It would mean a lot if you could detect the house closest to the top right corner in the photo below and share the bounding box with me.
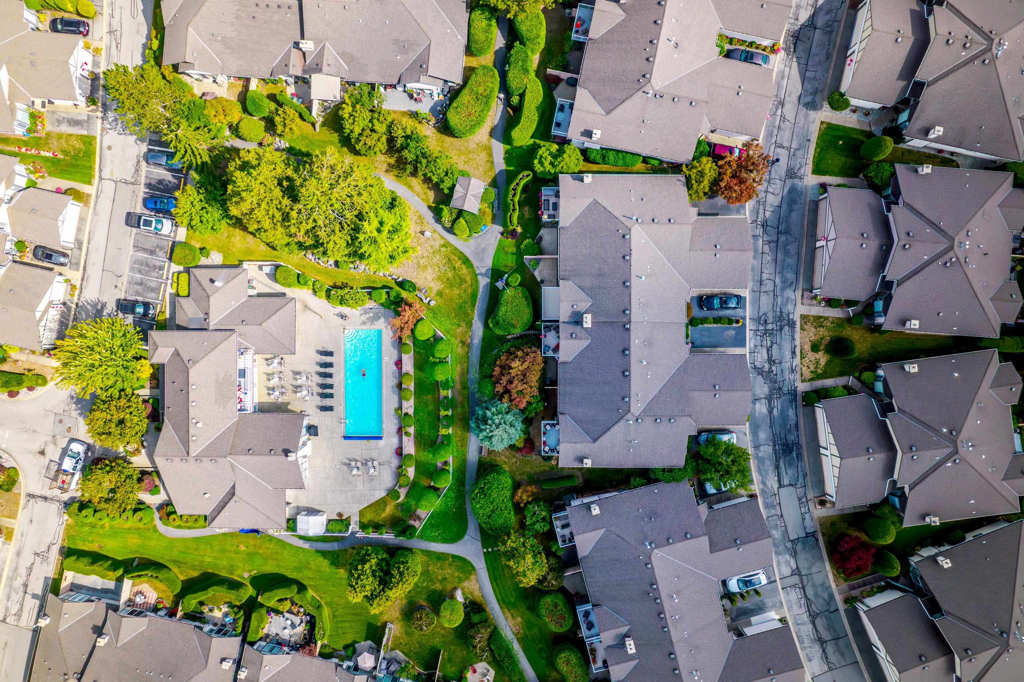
[841,0,1024,164]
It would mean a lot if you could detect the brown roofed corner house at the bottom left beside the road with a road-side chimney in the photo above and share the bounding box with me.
[28,588,120,682]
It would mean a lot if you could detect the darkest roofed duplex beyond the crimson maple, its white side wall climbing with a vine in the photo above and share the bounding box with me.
[857,517,1024,682]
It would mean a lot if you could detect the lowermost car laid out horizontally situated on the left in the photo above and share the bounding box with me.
[117,298,159,318]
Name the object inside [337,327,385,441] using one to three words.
swimming pool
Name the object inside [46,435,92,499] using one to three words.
truck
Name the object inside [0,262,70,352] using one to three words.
house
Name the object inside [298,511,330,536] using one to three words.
shed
